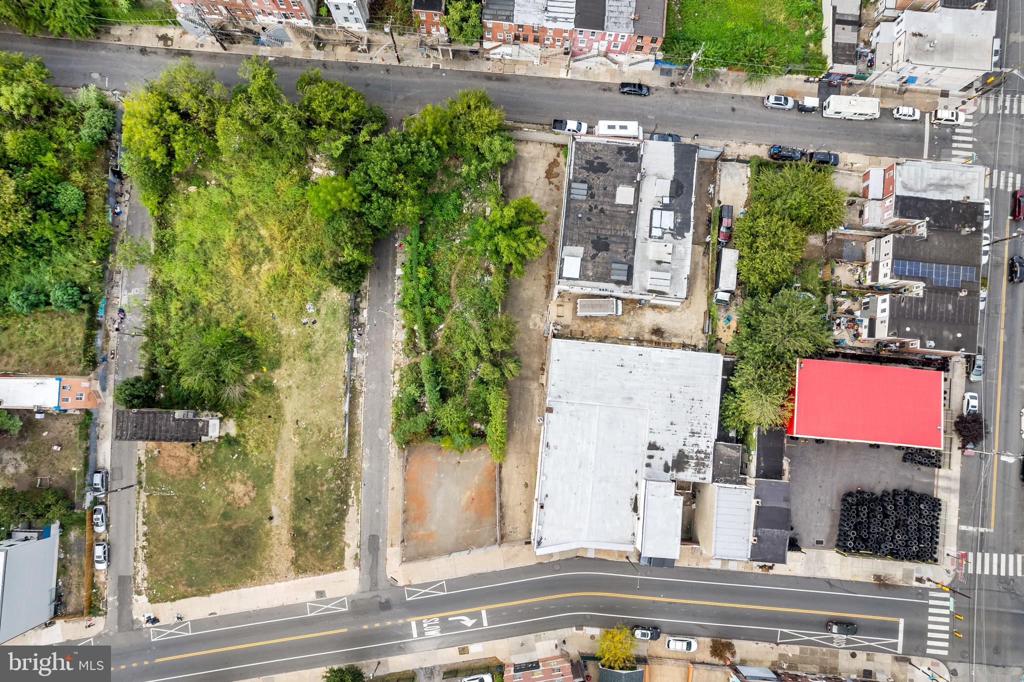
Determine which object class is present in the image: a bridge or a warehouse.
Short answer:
warehouse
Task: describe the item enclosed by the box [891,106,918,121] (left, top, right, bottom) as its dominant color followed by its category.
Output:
white car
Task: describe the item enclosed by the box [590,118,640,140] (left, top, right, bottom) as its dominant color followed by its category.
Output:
white truck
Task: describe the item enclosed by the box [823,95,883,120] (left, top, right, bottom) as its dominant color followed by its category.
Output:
white camper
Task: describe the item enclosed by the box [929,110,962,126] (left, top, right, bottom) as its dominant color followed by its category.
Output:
white car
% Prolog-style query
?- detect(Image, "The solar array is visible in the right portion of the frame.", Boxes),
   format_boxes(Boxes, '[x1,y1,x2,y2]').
[893,260,976,287]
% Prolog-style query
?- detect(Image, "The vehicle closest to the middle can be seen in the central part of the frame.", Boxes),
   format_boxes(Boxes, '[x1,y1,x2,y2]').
[573,298,619,316]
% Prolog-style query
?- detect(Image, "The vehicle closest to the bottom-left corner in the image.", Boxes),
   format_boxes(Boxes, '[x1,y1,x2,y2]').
[92,540,112,570]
